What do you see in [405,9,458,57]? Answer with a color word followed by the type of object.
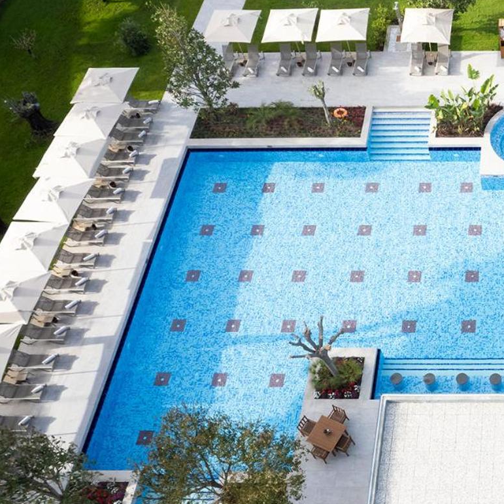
white umbrella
